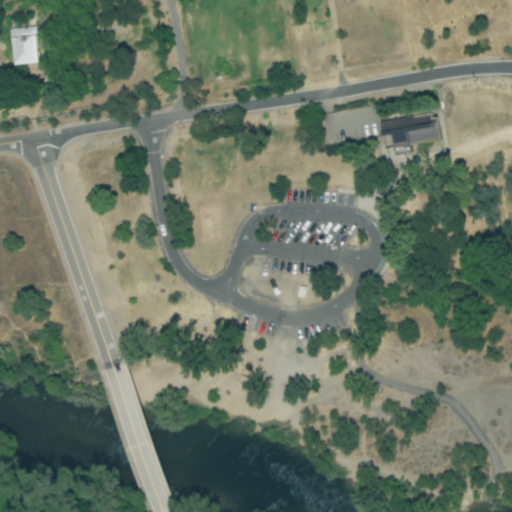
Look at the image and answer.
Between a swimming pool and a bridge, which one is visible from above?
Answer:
bridge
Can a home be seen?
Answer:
Yes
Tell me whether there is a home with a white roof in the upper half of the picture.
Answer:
Yes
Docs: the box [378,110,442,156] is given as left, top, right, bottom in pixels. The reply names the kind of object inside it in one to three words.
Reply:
building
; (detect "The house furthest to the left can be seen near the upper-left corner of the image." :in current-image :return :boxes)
[10,26,38,65]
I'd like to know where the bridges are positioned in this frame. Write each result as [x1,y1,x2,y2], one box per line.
[100,362,172,502]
